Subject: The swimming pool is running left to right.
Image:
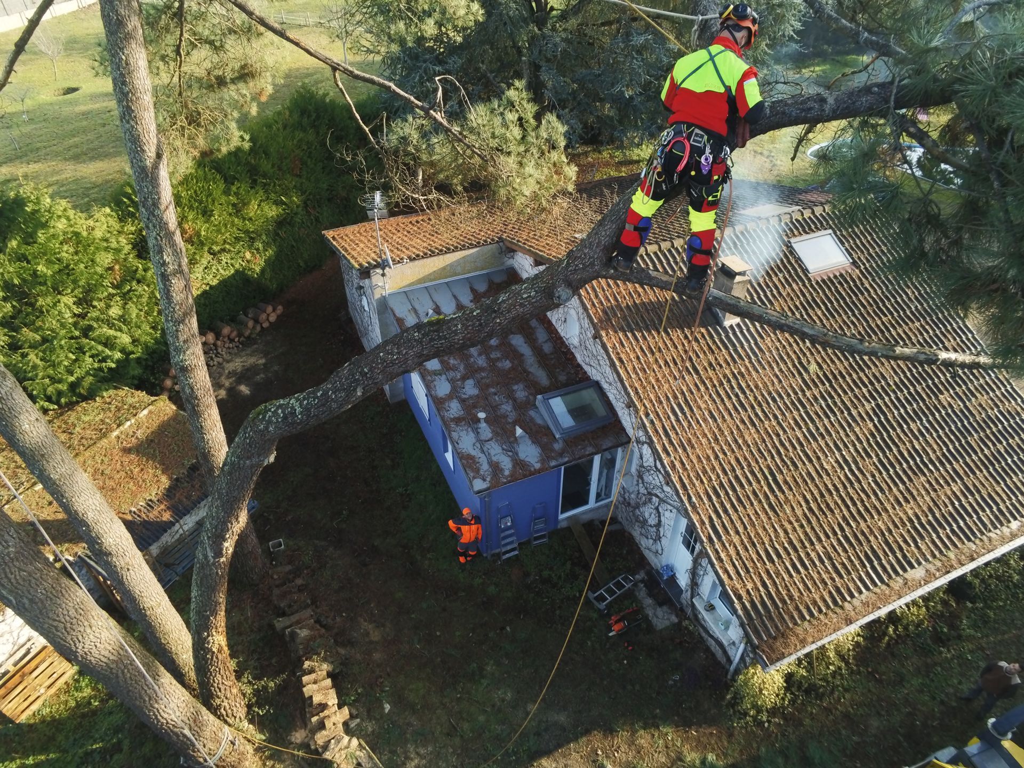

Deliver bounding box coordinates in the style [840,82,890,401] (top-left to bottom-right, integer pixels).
[820,127,1021,187]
